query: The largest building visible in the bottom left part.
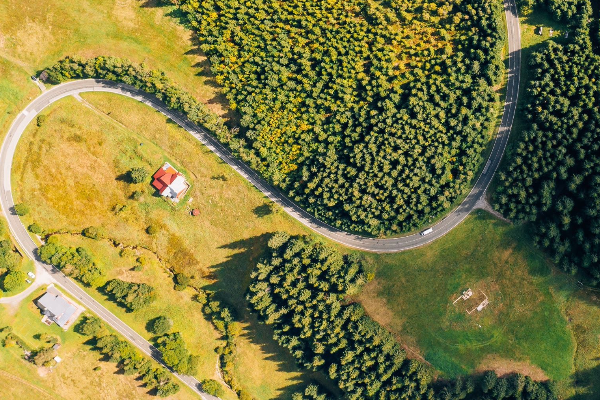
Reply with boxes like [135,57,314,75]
[37,283,87,331]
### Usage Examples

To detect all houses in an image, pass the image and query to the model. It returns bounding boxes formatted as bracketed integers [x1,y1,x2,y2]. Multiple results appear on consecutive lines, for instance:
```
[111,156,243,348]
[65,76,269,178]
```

[153,162,192,206]
[37,283,87,331]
